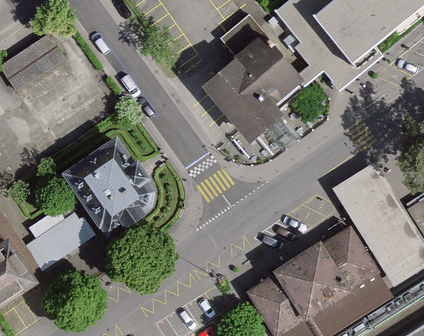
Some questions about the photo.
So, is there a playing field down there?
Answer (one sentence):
No, no playing field can be seen from above.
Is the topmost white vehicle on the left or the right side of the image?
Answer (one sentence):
The topmost white vehicle sits on the left side.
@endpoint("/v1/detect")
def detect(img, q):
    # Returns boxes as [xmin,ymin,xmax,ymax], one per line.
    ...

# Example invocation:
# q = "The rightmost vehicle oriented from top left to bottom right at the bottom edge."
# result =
[196,297,218,320]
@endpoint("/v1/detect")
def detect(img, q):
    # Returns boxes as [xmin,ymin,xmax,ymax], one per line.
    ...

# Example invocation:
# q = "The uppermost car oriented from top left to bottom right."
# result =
[111,0,132,18]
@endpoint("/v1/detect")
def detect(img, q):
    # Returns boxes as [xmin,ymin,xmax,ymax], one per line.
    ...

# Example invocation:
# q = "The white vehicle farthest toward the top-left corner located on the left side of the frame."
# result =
[89,31,112,56]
